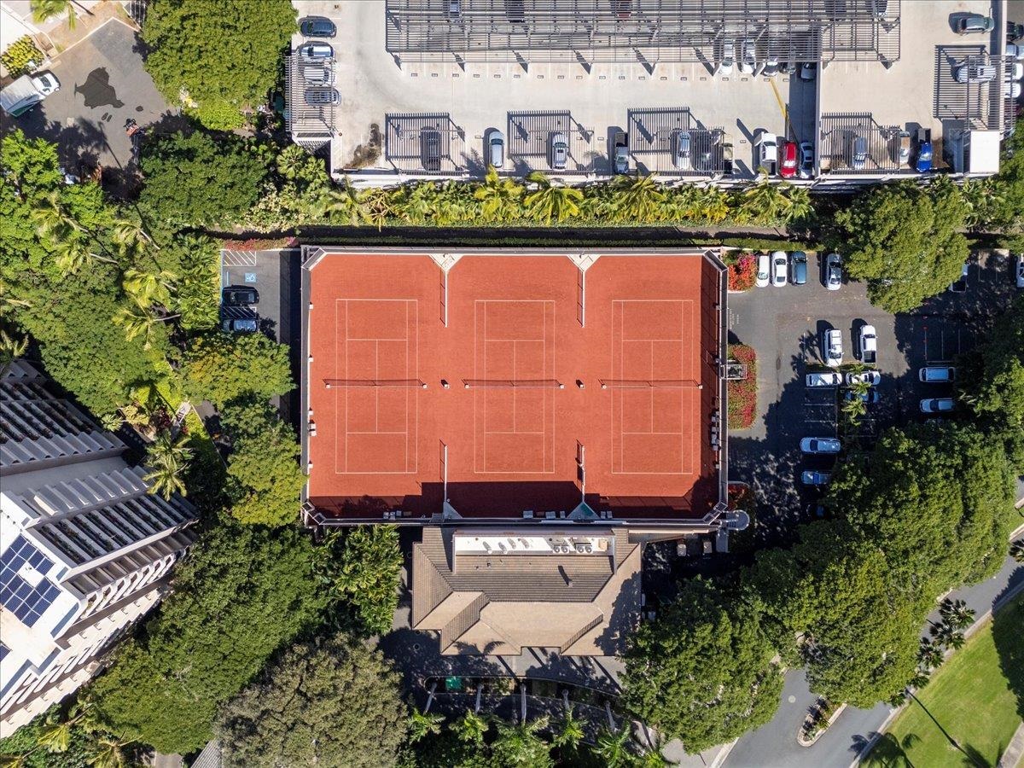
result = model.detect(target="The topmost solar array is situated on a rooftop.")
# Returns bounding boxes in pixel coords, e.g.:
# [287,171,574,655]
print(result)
[0,534,59,628]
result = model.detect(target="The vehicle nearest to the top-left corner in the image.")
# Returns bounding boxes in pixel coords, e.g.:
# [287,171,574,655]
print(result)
[0,73,59,115]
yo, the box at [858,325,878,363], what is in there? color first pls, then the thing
white vehicle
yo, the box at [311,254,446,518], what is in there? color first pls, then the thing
red tennis court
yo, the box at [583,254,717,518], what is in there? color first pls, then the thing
red tennis court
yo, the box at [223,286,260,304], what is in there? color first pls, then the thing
black car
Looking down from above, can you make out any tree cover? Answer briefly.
Yes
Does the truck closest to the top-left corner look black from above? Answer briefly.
No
